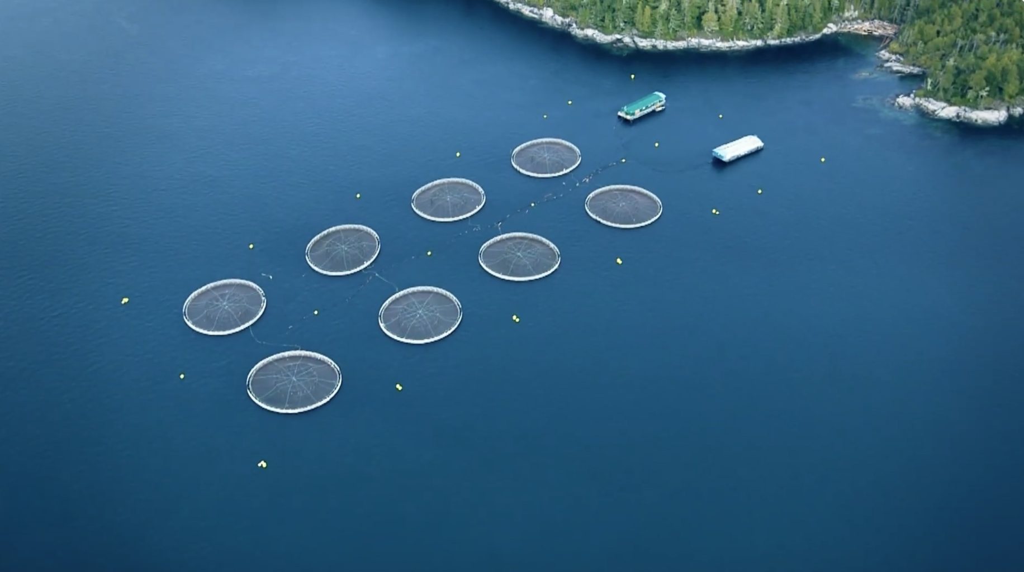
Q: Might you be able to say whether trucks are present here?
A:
No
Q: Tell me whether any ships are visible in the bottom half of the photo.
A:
No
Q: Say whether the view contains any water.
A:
Yes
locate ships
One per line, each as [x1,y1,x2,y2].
[618,89,666,121]
[714,133,765,163]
